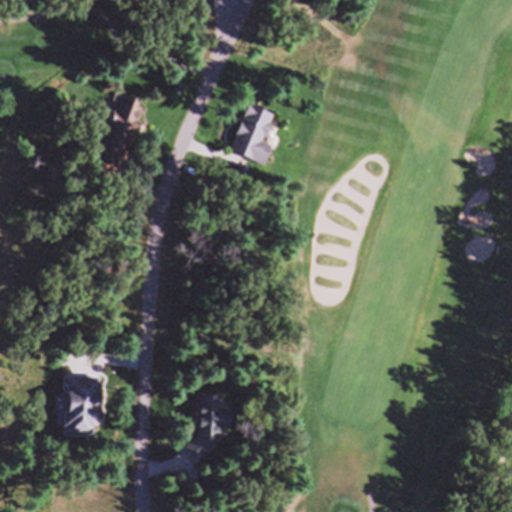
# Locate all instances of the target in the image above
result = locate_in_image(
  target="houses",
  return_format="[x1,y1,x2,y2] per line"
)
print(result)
[108,90,146,141]
[230,100,276,166]
[197,396,234,440]
[56,376,100,436]
[13,146,54,192]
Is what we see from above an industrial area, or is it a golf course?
golf course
